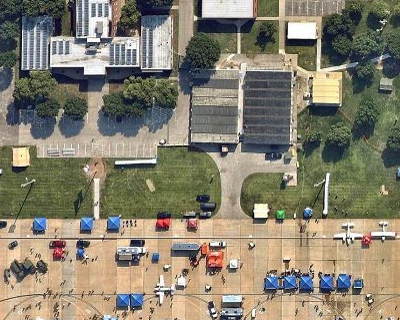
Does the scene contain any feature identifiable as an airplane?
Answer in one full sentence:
Yes, an airplane is visible in the scene.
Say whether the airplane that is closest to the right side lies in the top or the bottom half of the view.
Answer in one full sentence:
You can find the airplane that is closest to the right side in the bottom half.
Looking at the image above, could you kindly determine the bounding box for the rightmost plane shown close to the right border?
[370,222,397,241]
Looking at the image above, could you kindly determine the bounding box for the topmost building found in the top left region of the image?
[21,0,175,75]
